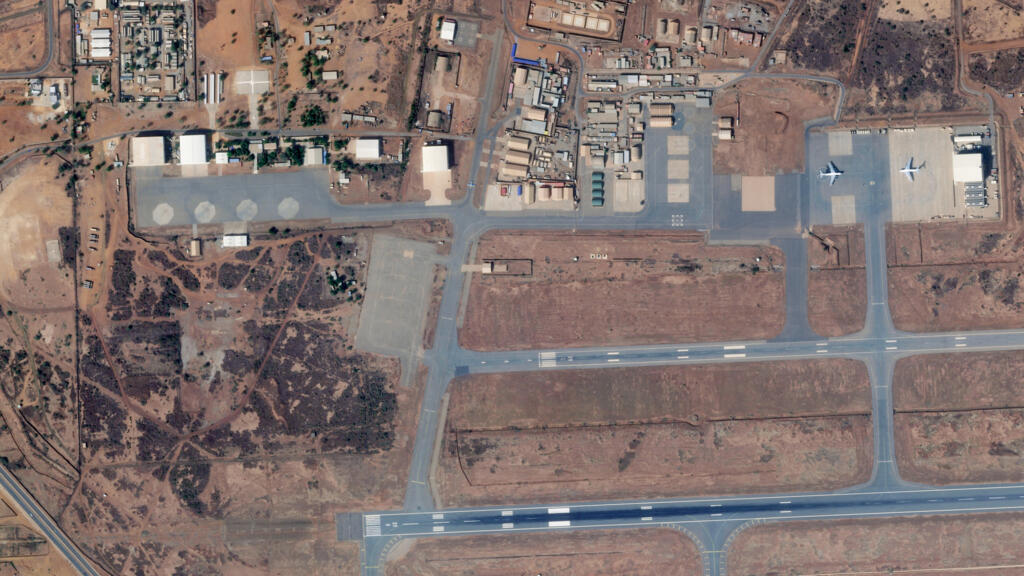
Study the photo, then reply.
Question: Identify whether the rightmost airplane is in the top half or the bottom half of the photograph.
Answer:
top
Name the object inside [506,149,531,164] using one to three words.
building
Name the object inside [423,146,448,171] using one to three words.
hangar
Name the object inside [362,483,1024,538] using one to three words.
runway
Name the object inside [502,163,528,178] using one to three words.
building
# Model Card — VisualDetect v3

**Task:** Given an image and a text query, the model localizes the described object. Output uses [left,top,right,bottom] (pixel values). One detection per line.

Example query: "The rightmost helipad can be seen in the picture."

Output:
[278,198,299,218]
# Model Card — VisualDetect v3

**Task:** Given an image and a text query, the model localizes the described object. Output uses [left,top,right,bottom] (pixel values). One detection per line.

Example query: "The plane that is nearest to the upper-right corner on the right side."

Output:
[899,158,922,182]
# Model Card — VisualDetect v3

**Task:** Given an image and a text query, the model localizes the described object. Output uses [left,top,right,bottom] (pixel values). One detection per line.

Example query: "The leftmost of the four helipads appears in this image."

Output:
[153,203,174,224]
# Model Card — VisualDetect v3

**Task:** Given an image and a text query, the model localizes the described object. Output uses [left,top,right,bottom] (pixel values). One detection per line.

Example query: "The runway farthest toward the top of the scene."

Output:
[444,330,1024,378]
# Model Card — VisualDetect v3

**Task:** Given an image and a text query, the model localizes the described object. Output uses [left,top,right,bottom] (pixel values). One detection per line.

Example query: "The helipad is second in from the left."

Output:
[195,201,215,222]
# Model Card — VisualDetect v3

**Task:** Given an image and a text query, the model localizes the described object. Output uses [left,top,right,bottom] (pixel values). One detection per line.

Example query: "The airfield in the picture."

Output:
[135,102,1024,576]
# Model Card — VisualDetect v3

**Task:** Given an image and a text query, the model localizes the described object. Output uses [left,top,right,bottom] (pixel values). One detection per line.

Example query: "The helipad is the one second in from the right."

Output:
[236,199,257,220]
